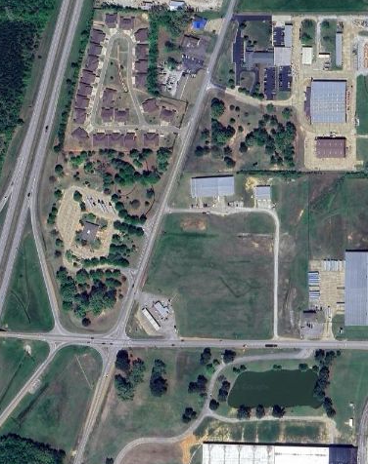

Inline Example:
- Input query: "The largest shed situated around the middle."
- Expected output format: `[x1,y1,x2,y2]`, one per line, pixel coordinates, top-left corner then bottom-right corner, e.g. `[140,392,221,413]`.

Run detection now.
[193,175,235,197]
